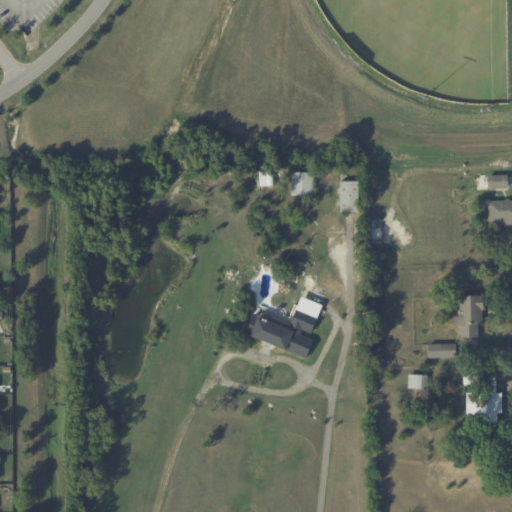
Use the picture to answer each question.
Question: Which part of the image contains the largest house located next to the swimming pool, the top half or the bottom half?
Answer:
bottom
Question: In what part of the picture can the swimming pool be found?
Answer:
center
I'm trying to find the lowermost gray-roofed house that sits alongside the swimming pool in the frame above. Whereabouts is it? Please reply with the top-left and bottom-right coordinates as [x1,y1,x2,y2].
[250,310,318,358]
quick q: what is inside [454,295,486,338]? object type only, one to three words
house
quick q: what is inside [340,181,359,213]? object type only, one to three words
building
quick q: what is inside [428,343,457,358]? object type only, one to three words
shed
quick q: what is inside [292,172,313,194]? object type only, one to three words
barn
